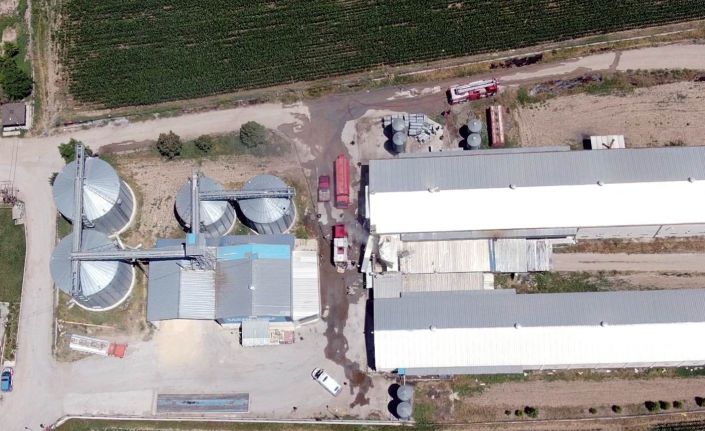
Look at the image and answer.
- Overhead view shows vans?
Yes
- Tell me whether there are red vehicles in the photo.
Yes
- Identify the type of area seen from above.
industrial area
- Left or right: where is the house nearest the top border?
left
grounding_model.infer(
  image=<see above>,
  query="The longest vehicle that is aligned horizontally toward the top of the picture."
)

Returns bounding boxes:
[446,83,499,106]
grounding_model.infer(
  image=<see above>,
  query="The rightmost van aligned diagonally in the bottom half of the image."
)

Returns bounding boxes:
[312,366,342,397]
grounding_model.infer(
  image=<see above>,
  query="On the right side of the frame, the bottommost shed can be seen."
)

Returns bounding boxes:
[372,289,705,377]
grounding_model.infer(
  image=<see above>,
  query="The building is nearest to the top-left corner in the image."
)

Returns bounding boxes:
[1,101,34,136]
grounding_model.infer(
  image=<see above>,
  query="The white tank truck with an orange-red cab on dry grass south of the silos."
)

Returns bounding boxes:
[67,334,131,362]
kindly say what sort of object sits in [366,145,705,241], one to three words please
shed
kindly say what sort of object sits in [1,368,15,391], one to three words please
car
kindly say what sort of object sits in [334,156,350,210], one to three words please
vehicle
